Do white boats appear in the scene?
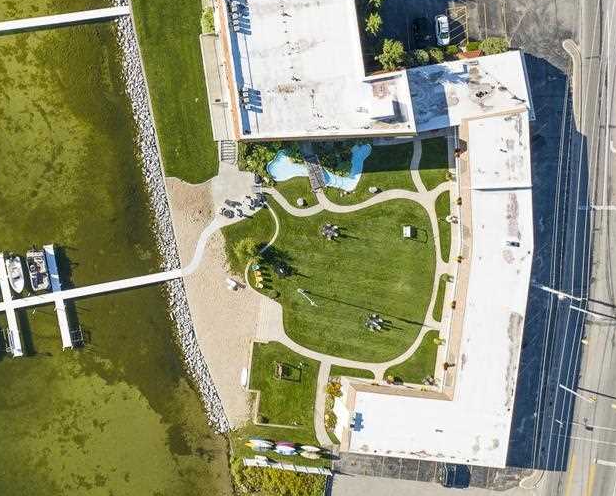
Yes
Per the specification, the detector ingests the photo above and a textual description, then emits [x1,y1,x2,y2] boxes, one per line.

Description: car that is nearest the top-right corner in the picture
[434,14,451,46]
